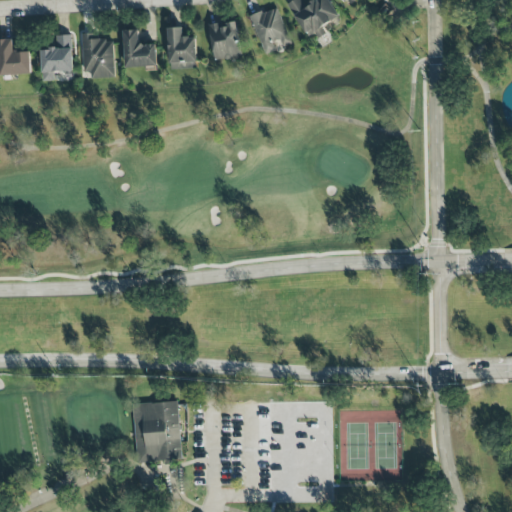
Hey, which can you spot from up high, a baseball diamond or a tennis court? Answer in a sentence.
Looking from above, you can make out a tennis court.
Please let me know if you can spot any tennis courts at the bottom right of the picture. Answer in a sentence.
Yes, a tennis court can be seen at the bottom right of the picture.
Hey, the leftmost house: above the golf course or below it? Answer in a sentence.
Looking at the photo, you'll find the leftmost house above the golf course.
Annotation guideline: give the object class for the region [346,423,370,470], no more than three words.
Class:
tennis court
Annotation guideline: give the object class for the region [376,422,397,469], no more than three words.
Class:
tennis court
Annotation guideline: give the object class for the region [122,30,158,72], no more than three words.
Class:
house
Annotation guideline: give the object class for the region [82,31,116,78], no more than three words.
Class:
house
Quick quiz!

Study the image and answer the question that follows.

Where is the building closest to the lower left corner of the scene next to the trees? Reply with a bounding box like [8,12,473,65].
[132,402,182,463]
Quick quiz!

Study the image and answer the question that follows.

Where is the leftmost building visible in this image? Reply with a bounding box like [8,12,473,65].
[0,38,30,80]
